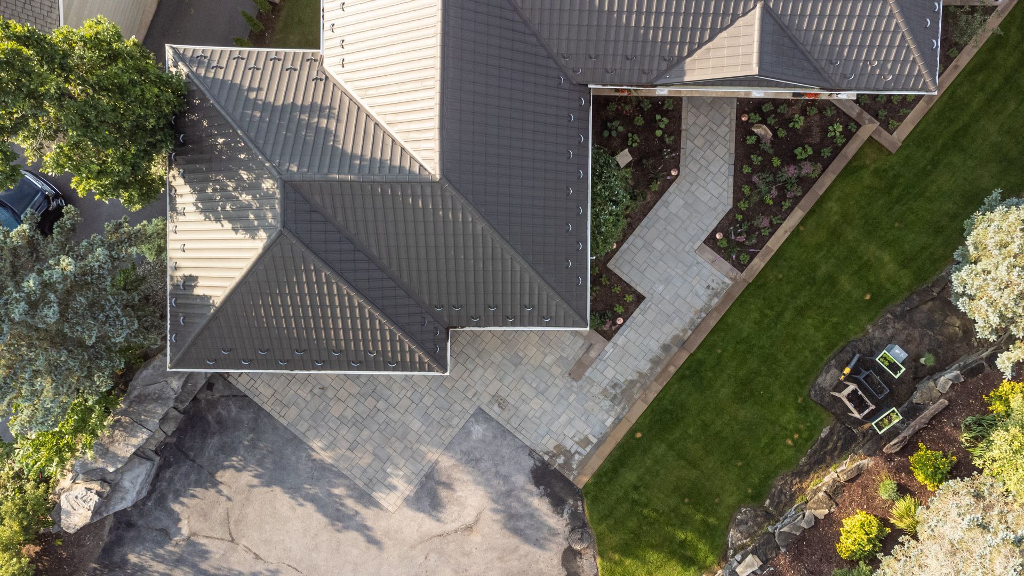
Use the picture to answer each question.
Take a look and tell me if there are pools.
No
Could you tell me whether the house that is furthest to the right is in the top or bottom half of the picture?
top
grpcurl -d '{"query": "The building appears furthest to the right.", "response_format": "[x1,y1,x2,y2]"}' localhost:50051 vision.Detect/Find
[166,0,941,373]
